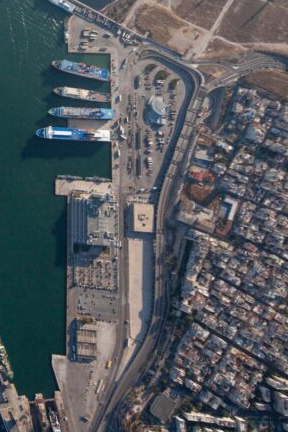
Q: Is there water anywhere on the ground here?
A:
Yes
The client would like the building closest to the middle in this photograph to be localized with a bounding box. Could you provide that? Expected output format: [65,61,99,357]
[131,204,155,232]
